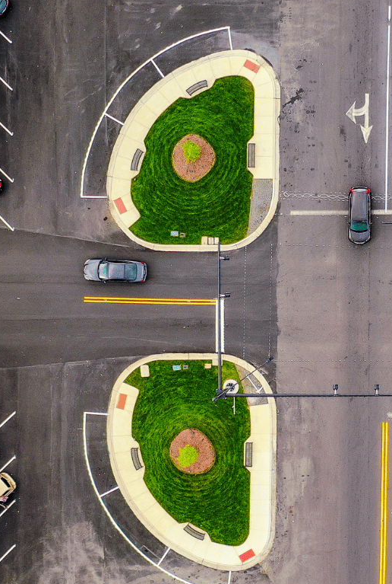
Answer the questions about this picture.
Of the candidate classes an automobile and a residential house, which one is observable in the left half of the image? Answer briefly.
automobile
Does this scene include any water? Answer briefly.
No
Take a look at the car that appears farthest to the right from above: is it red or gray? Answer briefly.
gray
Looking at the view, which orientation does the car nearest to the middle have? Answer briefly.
from side to side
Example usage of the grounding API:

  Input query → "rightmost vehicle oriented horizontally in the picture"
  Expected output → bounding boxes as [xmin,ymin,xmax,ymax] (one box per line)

[85,255,149,284]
